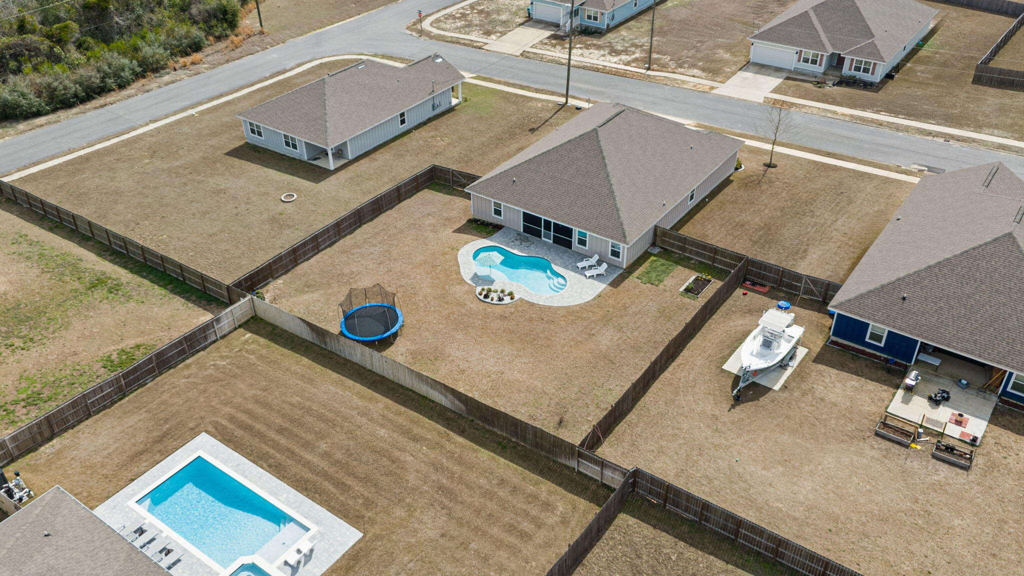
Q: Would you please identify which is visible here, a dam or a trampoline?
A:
trampoline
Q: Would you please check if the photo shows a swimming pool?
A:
Yes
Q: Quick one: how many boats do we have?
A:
1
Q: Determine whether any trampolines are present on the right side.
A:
No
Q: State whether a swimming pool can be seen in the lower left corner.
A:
Yes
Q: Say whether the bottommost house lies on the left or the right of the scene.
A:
left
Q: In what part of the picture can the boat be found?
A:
right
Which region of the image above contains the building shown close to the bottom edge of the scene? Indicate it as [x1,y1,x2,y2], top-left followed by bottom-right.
[0,484,174,576]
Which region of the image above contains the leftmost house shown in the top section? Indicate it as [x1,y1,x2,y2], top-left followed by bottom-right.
[236,51,465,170]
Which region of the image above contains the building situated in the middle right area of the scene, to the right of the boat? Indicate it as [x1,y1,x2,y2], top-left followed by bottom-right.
[827,159,1024,407]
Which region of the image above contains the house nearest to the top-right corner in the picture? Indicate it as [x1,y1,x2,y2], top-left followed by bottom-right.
[747,0,938,82]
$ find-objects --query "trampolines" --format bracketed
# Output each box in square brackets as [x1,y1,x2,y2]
[337,284,403,349]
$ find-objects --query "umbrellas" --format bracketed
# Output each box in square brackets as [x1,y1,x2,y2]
[477,245,508,277]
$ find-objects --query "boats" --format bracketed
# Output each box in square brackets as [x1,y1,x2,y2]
[739,305,800,372]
